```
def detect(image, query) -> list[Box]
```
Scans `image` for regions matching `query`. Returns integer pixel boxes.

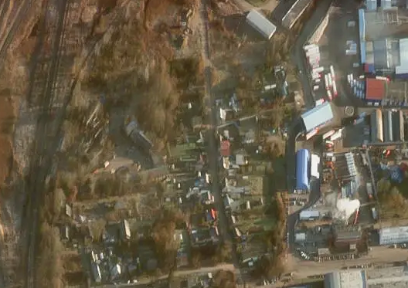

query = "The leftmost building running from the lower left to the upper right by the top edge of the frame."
[281,0,313,30]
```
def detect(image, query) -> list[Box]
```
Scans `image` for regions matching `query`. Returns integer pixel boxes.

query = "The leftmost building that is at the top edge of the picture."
[246,8,276,41]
